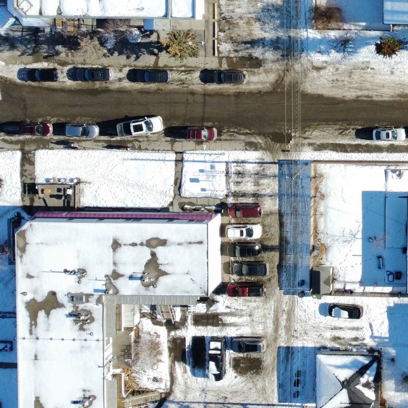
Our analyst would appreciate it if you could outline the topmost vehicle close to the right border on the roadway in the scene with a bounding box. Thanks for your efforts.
[373,127,406,141]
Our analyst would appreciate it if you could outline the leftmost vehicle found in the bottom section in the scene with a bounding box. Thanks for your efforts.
[206,335,226,382]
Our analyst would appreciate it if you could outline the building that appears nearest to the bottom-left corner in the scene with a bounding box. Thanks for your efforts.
[16,211,222,408]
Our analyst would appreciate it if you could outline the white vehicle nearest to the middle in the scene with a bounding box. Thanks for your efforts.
[226,223,263,240]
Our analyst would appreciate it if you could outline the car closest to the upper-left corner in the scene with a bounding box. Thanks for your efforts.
[27,66,65,83]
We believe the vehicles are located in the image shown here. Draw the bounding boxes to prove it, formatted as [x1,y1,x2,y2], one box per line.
[18,121,56,137]
[136,67,173,84]
[227,280,267,297]
[226,223,263,240]
[213,68,251,87]
[331,302,364,320]
[373,127,406,141]
[186,125,219,141]
[229,202,263,218]
[206,335,226,382]
[75,66,114,83]
[27,66,65,83]
[115,115,165,138]
[232,336,267,353]
[228,242,263,259]
[66,122,101,139]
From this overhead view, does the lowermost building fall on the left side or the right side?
right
